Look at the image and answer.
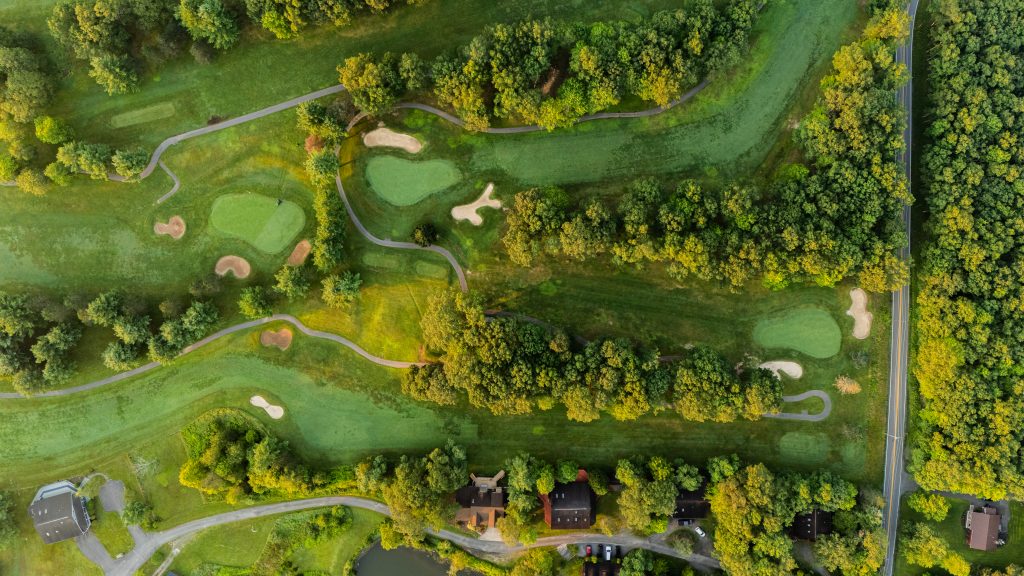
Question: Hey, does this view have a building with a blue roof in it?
No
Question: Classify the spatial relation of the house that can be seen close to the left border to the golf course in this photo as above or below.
below it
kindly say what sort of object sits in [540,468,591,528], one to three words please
house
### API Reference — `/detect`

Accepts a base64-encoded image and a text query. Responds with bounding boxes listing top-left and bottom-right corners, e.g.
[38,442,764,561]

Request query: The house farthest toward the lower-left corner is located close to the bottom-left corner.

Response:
[25,479,92,544]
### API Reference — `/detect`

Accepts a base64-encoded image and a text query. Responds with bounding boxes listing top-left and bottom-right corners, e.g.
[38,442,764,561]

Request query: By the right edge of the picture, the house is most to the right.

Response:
[963,504,1000,552]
